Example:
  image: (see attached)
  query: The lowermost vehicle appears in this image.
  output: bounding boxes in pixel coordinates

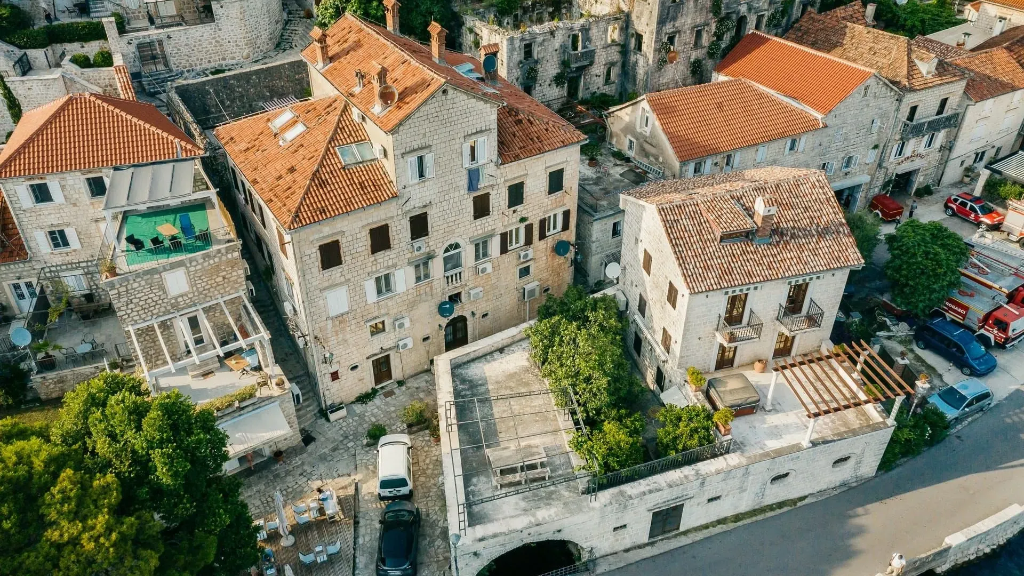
[374,501,423,576]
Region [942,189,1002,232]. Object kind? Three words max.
car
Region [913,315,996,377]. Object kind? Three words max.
car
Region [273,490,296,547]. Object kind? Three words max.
umbrella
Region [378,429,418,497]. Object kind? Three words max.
vehicle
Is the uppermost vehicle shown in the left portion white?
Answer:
Yes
